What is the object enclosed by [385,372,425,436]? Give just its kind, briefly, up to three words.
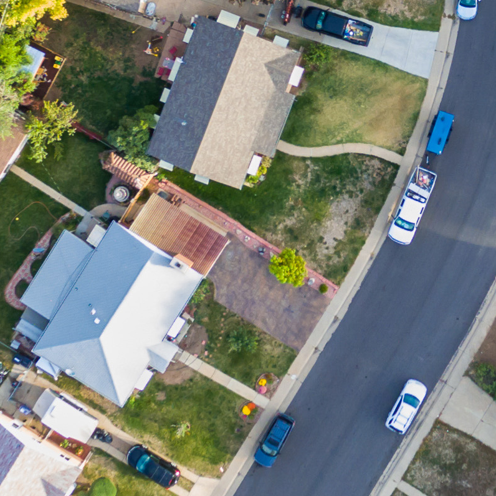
car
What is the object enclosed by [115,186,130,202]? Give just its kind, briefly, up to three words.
fountain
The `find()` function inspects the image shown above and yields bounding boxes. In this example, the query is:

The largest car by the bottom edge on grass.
[125,445,183,492]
